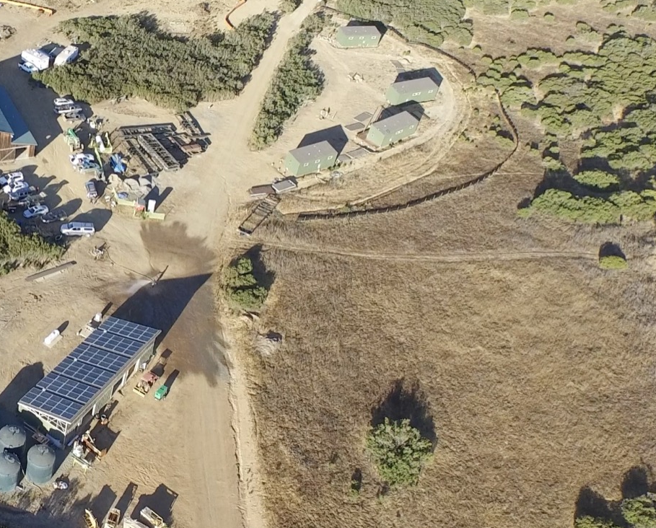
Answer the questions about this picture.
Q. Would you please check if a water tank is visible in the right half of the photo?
No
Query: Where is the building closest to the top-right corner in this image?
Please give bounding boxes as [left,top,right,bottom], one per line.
[381,79,438,105]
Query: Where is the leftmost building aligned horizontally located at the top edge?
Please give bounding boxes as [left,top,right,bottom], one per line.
[329,26,383,47]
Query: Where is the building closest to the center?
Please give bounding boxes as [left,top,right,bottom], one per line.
[275,140,342,176]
